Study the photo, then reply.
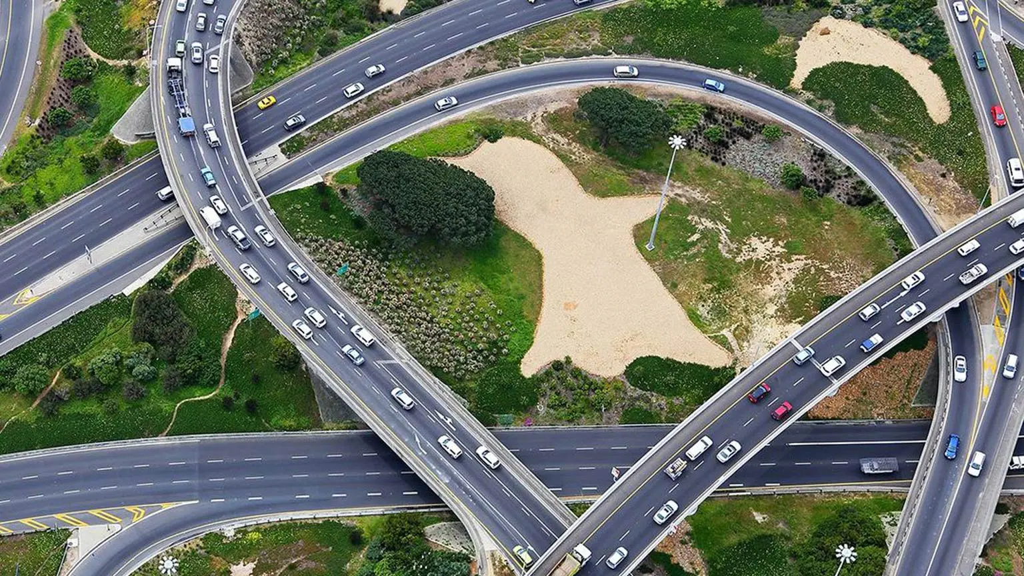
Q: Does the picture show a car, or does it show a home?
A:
car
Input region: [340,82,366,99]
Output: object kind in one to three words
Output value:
car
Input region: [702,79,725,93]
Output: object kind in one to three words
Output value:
car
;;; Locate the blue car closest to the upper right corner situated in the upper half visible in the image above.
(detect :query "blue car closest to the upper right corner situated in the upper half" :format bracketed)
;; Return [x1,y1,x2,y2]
[973,50,985,71]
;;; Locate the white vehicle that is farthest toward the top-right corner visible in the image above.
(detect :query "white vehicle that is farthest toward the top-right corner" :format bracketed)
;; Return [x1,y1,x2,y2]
[953,2,966,23]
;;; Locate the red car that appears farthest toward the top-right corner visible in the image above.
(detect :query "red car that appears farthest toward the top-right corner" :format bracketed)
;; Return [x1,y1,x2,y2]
[991,106,1006,128]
